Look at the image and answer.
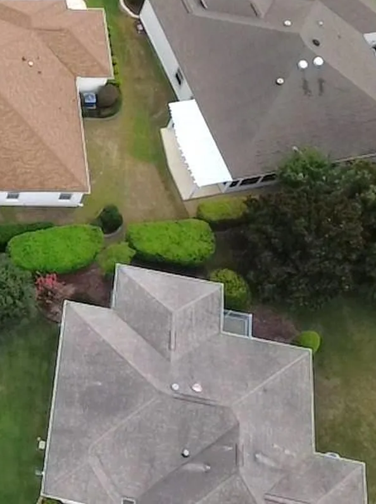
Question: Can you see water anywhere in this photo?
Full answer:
No, there is no water in the image.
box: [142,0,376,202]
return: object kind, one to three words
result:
house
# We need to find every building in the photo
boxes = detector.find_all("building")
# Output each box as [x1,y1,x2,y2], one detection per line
[142,0,376,202]
[0,0,115,212]
[40,263,368,504]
